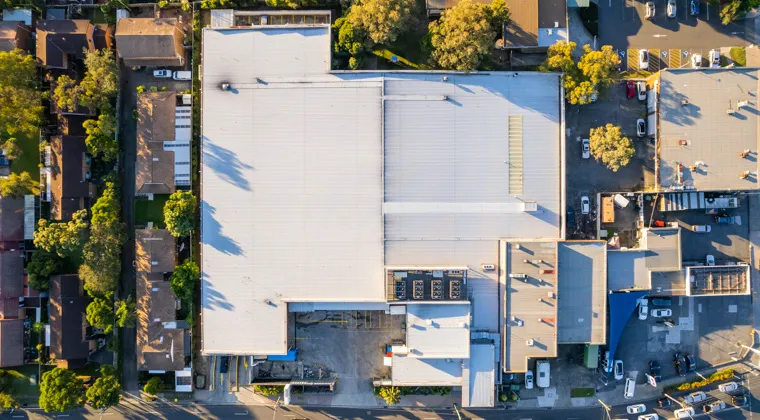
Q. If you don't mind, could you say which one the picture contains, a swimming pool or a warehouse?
warehouse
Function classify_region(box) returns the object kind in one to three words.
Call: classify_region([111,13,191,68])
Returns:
house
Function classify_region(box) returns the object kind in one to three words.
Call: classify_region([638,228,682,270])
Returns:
building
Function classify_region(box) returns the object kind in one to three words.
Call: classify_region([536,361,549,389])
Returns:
vehicle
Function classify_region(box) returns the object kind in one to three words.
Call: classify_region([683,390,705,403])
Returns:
vehicle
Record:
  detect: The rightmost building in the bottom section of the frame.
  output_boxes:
[680,262,750,296]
